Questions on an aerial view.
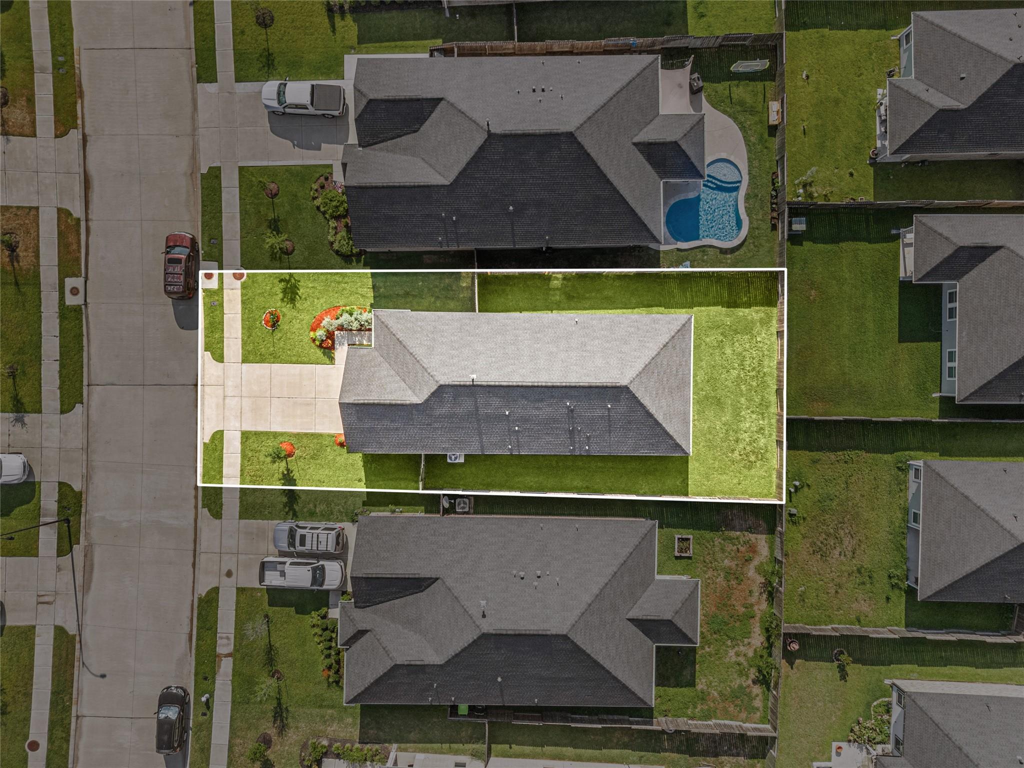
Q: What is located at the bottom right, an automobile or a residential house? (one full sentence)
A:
The one visible at the bottom right is a residential house.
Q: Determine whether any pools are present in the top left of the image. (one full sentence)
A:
No, the scene shows no pool in the top left of the image.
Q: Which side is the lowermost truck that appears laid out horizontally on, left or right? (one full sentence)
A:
The lowermost truck that appears laid out horizontally appears in the left half of the scene.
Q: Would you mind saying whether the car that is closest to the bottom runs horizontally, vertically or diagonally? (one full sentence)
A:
Seen from above, the car that is closest to the bottom lies vertically.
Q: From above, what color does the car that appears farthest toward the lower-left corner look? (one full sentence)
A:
From above, the car that appears farthest toward the lower-left corner appears black.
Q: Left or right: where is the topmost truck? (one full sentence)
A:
The topmost truck sits on the left side.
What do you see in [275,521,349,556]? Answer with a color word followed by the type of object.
gray car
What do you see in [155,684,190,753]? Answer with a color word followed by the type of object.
black car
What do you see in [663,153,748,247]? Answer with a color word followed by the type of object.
blue swimming pool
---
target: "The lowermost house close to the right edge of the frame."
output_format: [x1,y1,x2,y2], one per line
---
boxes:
[874,679,1024,768]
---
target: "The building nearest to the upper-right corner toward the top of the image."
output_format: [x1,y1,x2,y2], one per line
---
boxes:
[883,9,1024,160]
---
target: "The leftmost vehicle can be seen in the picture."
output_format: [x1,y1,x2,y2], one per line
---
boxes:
[0,453,32,487]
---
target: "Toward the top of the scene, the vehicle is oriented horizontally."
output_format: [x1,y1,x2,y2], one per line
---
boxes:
[263,78,348,117]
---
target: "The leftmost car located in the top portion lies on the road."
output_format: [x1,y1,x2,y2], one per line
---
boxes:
[161,233,198,301]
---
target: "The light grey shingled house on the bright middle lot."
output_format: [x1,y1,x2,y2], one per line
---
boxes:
[339,310,694,456]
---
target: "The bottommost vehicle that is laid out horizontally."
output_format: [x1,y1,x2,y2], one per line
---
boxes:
[258,555,347,592]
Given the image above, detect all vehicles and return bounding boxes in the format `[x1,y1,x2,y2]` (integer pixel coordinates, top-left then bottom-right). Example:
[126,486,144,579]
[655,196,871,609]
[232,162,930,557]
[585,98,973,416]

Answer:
[161,233,198,301]
[258,555,347,592]
[0,453,32,487]
[263,78,348,117]
[275,521,349,556]
[155,684,190,753]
